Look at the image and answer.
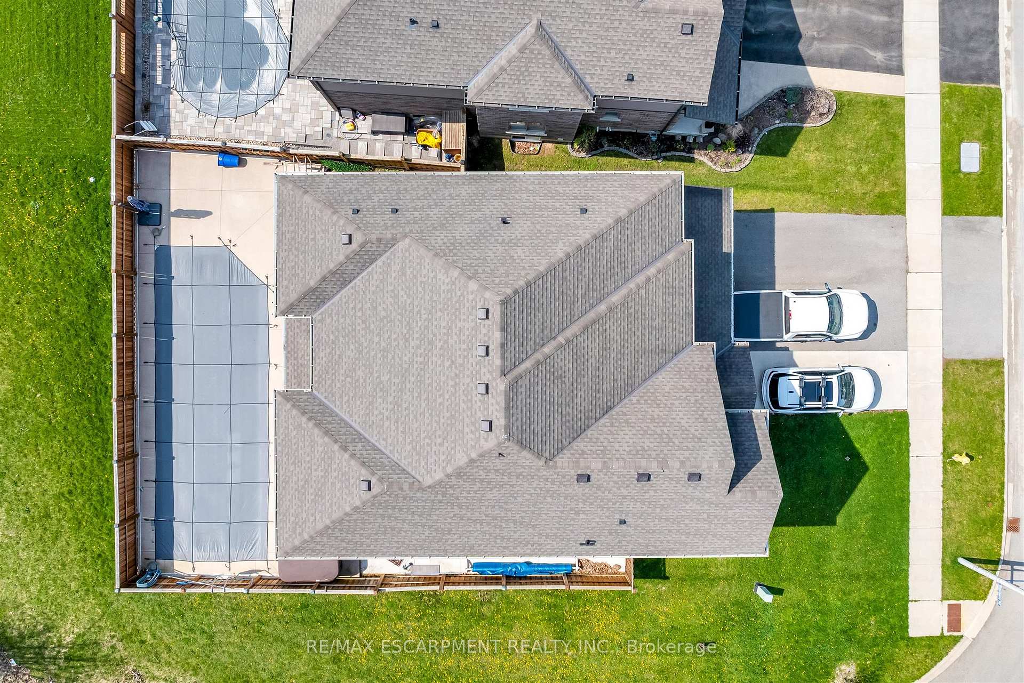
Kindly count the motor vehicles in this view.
two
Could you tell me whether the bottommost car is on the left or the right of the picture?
right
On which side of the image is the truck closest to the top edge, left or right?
right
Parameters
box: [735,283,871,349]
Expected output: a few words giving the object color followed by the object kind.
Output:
white truck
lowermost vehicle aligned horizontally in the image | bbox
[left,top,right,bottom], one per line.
[758,362,872,419]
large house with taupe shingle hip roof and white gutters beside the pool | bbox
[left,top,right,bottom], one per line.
[273,170,784,561]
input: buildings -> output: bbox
[286,0,759,144]
[273,170,784,561]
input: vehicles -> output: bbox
[758,362,872,419]
[735,283,871,349]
